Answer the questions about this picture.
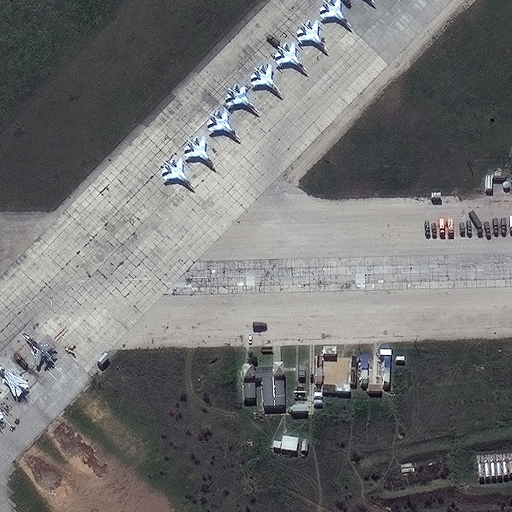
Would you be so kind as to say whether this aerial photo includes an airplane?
Yes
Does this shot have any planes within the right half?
Yes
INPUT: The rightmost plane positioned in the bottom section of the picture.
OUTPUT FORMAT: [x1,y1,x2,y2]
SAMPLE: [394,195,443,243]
[25,336,60,371]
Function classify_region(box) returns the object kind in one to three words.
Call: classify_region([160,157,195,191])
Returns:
airplane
